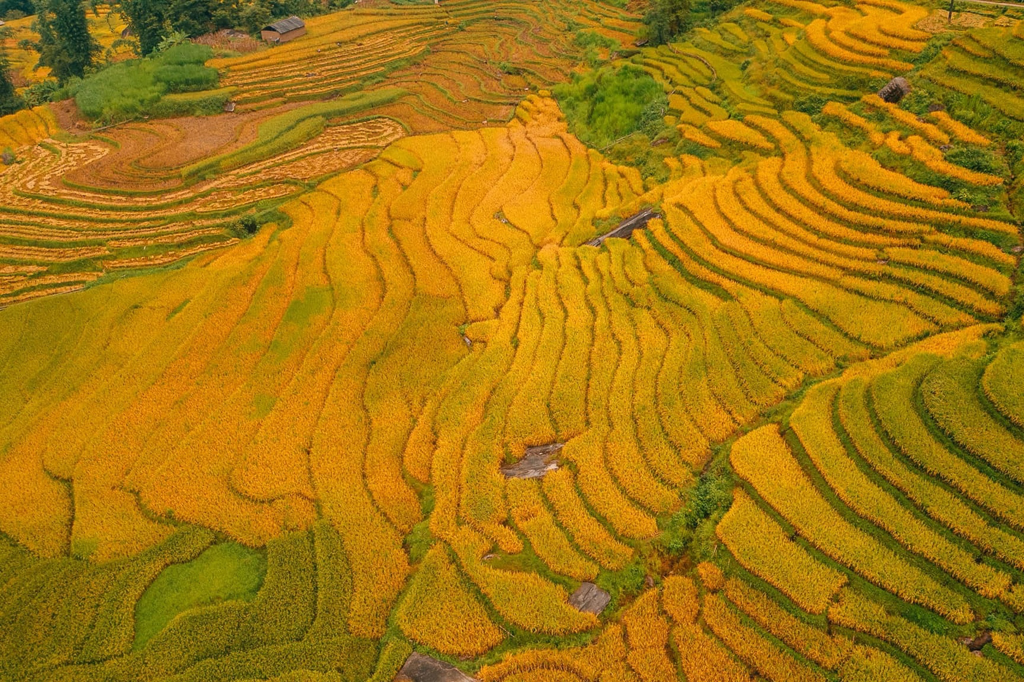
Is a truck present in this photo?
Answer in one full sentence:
No, I can see no truck in this picture.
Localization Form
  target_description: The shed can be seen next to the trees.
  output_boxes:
[261,15,309,44]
